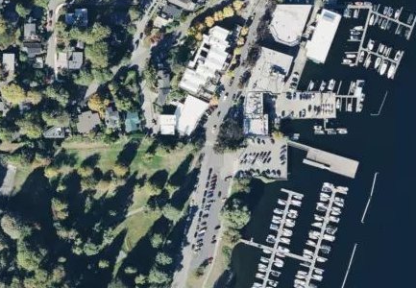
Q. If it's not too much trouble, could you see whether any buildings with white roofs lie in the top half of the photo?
Yes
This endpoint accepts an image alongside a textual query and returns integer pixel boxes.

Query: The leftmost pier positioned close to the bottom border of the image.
[239,188,304,288]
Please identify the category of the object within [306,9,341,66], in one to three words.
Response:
building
